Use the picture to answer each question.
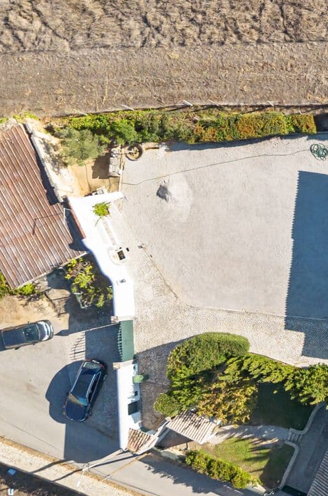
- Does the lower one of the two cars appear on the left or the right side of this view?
left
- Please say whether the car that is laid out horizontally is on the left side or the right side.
left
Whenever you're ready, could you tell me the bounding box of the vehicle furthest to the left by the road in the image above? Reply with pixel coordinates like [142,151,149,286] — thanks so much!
[0,319,59,349]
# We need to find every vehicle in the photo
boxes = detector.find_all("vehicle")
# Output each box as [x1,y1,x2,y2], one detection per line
[0,319,59,349]
[66,360,111,423]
